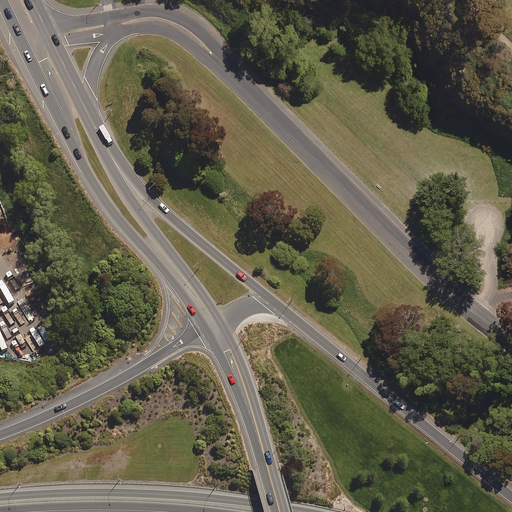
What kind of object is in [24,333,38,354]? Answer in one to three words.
vehicle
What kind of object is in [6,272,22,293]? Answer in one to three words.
vehicle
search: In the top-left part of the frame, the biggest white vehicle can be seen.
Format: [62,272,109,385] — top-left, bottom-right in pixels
[98,124,114,148]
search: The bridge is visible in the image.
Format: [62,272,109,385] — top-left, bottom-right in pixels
[252,469,294,512]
